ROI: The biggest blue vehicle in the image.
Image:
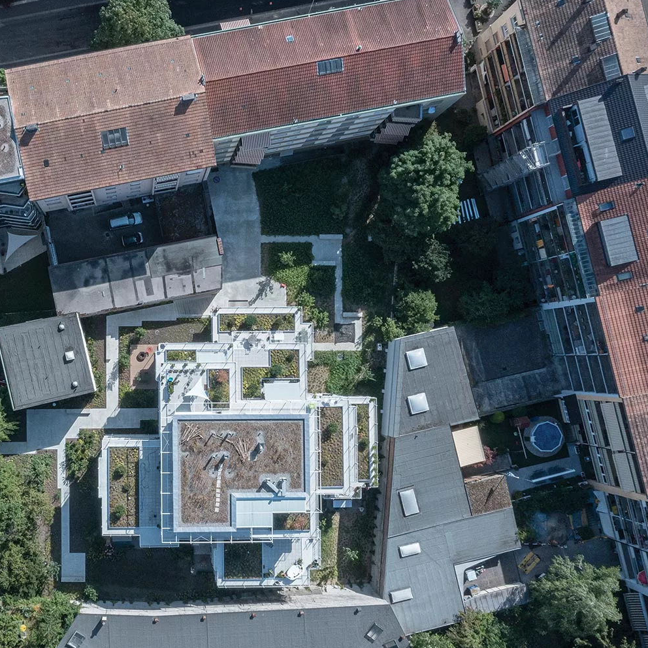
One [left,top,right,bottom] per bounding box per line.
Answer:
[108,211,144,229]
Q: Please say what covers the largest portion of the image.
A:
buildings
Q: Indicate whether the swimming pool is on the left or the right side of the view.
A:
right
